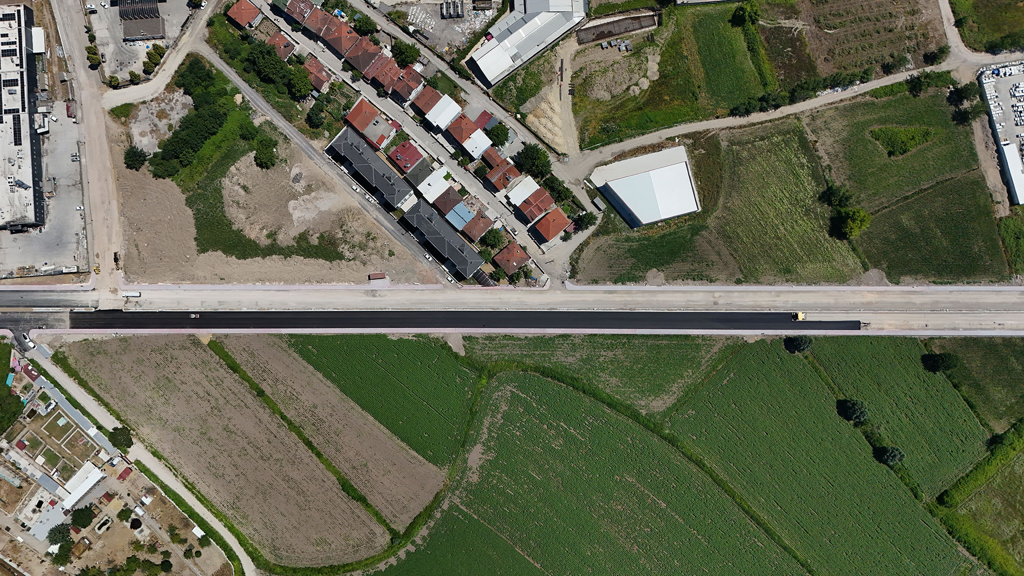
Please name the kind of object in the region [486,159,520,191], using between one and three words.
house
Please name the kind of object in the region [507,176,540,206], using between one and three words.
house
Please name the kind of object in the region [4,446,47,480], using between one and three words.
barn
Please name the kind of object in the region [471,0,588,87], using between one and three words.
building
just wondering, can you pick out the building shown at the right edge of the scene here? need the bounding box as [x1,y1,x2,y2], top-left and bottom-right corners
[996,142,1024,206]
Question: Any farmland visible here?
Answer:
Yes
